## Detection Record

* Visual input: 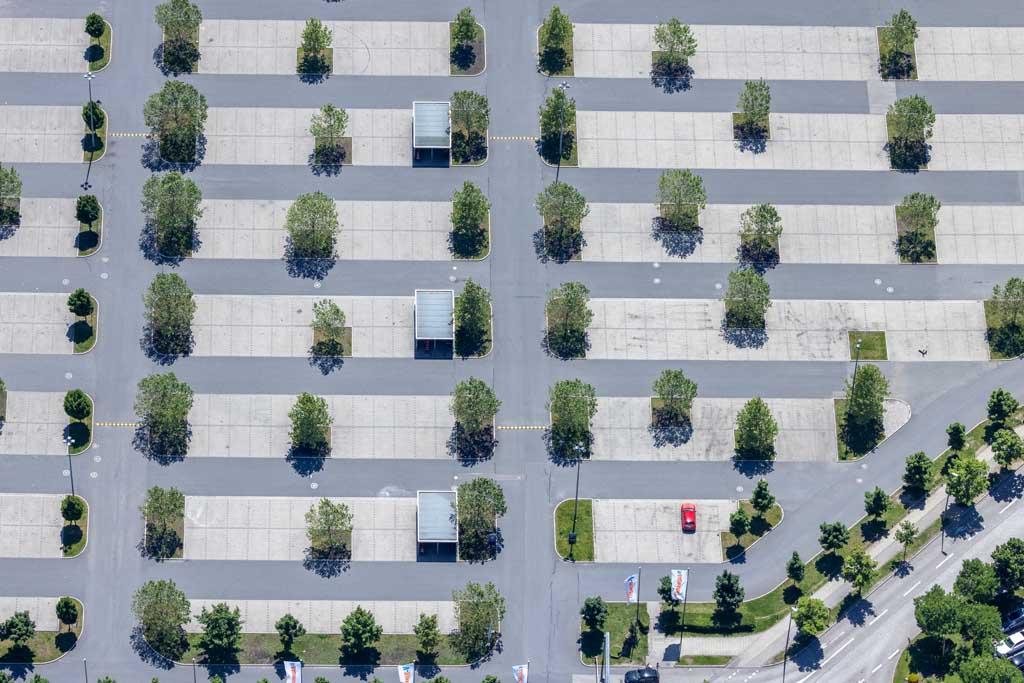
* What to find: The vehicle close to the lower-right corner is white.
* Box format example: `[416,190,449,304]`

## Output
[995,631,1024,659]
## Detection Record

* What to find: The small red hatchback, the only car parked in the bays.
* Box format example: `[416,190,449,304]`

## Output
[681,506,697,533]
